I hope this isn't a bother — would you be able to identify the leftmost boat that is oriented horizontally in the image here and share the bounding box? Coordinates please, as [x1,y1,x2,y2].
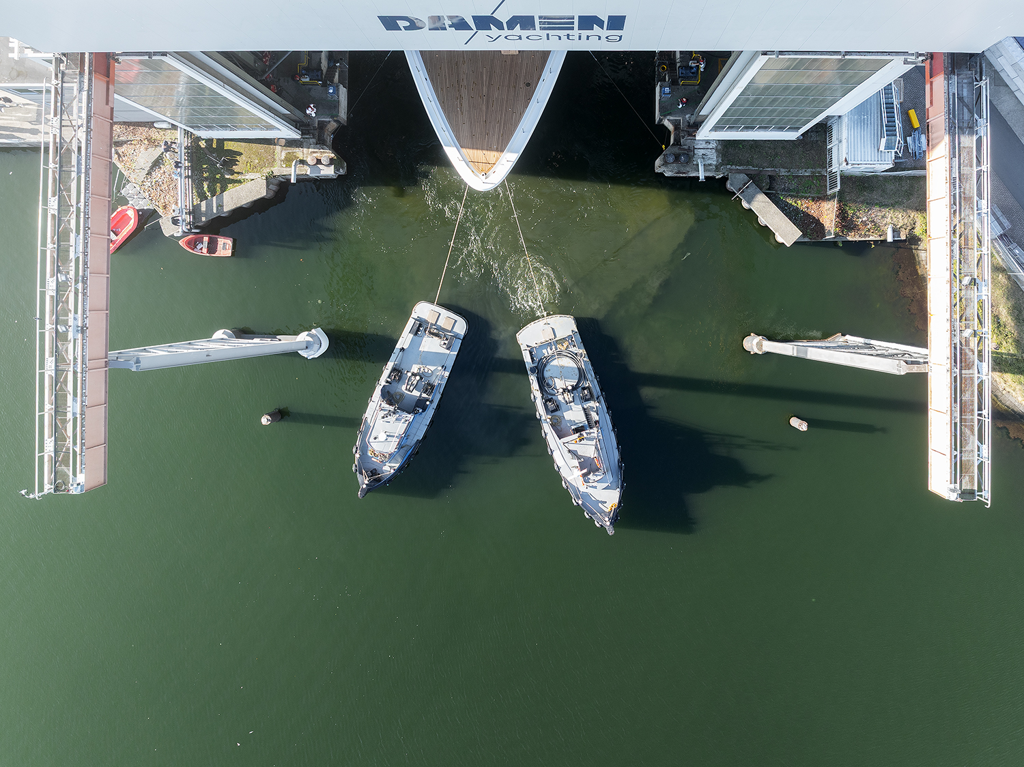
[180,234,233,256]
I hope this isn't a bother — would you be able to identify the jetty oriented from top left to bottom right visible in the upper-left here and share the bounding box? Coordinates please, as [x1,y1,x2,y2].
[118,180,156,219]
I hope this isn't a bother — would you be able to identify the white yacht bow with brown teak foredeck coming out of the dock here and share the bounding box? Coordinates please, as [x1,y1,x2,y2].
[405,52,566,191]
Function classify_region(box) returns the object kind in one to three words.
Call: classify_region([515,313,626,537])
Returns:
boat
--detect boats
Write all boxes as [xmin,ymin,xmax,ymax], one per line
[515,313,626,537]
[180,234,233,256]
[405,52,566,191]
[351,299,470,500]
[114,206,140,252]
